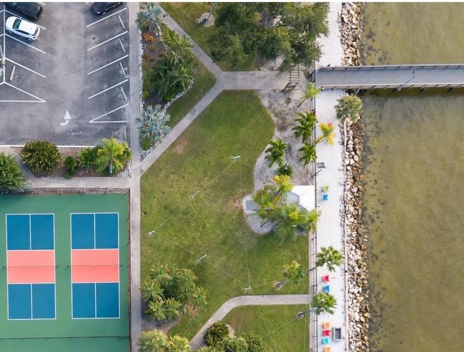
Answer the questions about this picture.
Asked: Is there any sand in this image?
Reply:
Yes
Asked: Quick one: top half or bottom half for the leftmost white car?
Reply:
top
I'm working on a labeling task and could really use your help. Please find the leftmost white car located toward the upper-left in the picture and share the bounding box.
[5,14,40,39]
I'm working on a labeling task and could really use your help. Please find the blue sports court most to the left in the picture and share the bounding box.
[3,213,59,320]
